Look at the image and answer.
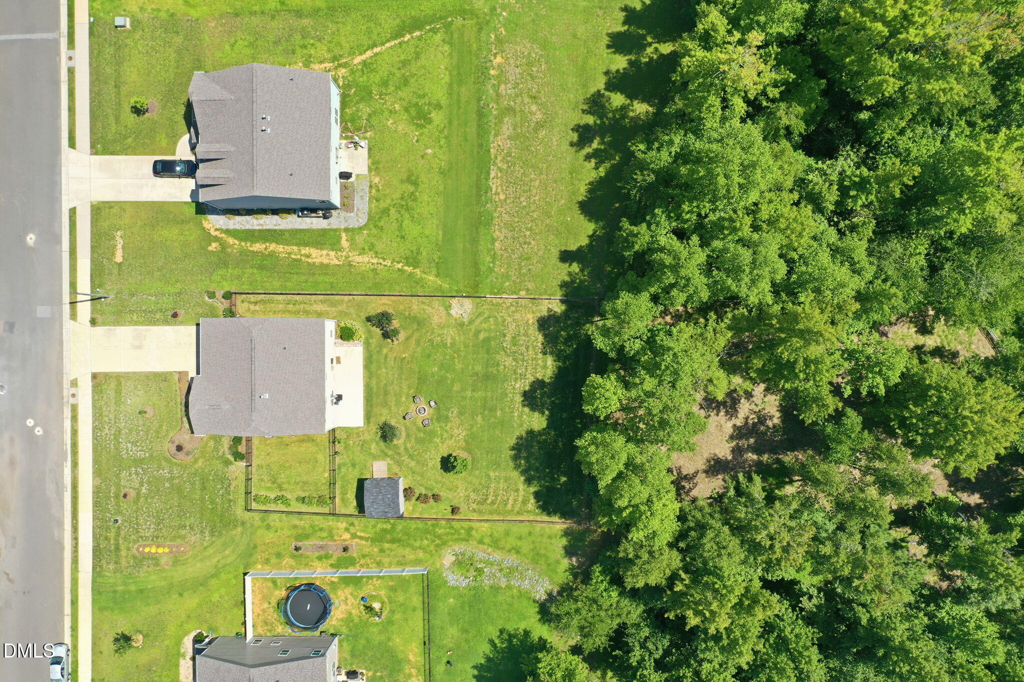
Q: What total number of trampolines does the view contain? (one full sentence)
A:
Only 1 trampoline is visible.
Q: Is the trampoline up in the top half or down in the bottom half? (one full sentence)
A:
It is in the bottom half that the trampoline appears.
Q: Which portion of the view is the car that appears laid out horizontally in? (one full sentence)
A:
The car that appears laid out horizontally appears toward the top left of the photo.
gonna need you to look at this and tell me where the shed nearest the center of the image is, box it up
[363,476,402,516]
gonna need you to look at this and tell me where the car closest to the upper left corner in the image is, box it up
[152,157,199,179]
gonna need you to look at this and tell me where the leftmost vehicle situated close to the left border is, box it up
[47,642,71,682]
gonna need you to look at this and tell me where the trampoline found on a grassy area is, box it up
[280,585,330,636]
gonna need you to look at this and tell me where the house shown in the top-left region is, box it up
[189,63,343,208]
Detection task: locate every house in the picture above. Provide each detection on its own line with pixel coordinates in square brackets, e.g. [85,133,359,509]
[189,63,343,208]
[194,636,341,682]
[188,317,339,437]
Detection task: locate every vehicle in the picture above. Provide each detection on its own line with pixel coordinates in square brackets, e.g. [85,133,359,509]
[47,642,71,682]
[152,157,199,179]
